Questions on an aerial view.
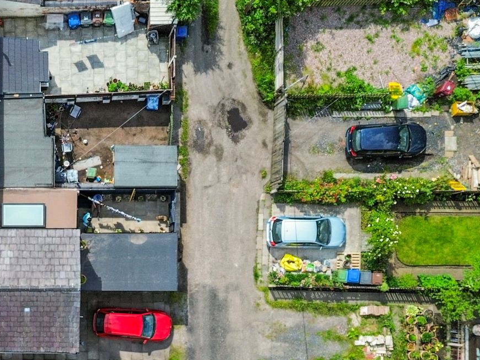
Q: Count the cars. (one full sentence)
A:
There are 3 cars in the image.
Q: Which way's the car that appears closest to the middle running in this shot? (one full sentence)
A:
In this picture, the car that appears closest to the middle is oriented from left to right.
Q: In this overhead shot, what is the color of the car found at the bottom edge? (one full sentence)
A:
The car found at the bottom edge looks red in the image.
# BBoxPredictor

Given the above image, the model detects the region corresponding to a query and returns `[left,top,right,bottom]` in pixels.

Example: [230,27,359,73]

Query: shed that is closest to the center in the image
[110,146,177,189]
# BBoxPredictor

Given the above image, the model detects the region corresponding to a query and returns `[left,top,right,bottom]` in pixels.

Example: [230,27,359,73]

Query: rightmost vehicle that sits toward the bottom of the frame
[270,211,347,250]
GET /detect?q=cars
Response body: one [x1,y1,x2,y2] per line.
[270,211,347,250]
[349,118,430,158]
[96,306,172,346]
